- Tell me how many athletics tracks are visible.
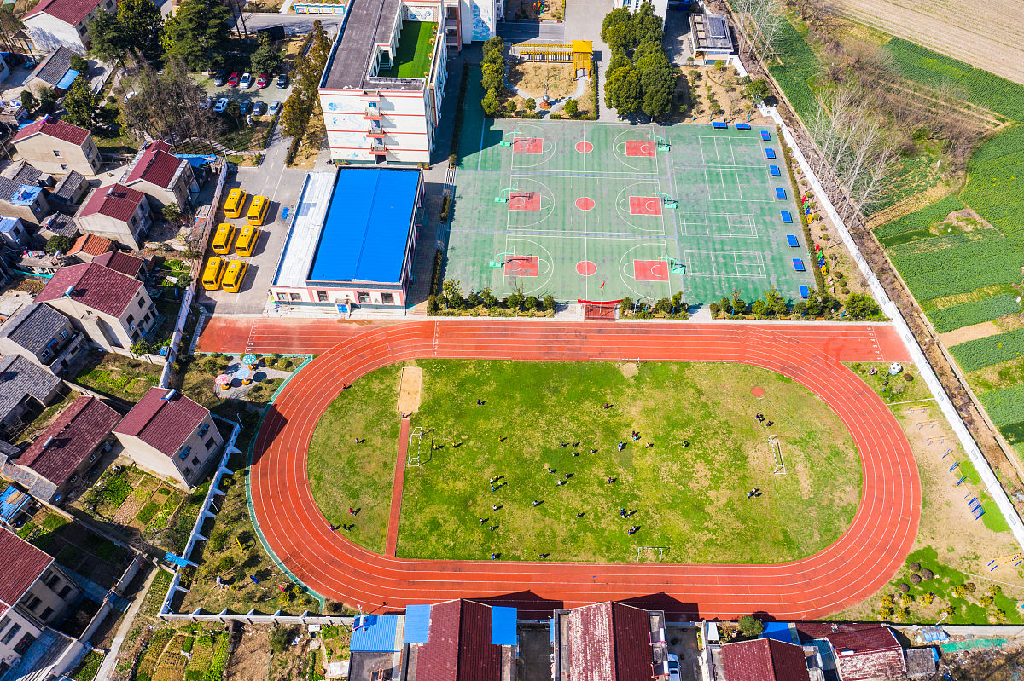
1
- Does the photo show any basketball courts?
Yes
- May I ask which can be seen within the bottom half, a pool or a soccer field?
soccer field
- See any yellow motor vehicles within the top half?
Yes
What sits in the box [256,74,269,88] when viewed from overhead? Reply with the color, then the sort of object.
red vehicle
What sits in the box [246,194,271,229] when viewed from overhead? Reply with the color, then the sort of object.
yellow bus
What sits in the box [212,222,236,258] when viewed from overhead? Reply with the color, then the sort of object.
yellow bus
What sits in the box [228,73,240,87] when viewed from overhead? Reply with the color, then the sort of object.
red vehicle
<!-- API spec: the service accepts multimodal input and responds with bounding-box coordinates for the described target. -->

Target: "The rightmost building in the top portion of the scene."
[682,12,733,65]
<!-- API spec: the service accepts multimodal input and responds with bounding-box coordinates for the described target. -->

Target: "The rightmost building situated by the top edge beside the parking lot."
[318,0,451,161]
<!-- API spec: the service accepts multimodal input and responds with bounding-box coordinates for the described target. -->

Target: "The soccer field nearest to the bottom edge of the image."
[307,358,863,564]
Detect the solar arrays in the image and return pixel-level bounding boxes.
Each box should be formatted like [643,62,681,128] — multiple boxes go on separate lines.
[703,14,725,35]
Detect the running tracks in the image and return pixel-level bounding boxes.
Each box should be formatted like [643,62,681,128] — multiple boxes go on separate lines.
[196,317,924,624]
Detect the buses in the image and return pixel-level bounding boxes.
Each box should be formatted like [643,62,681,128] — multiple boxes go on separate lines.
[212,222,236,258]
[201,255,227,294]
[234,223,259,260]
[246,194,271,229]
[221,258,247,297]
[223,187,248,221]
